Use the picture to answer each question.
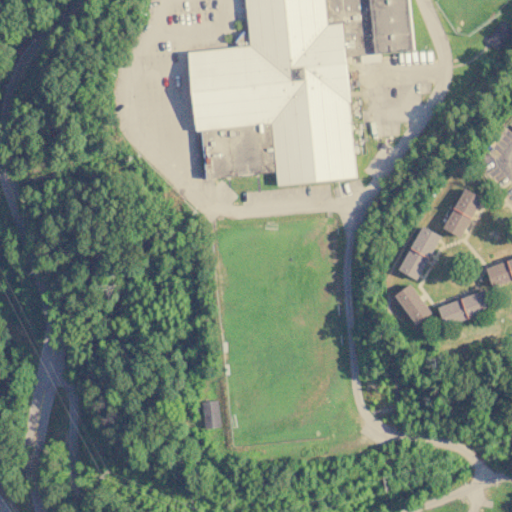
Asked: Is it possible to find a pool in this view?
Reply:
No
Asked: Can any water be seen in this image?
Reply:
No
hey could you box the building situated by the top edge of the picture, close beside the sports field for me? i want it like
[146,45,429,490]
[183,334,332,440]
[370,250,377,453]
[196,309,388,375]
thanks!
[188,0,358,187]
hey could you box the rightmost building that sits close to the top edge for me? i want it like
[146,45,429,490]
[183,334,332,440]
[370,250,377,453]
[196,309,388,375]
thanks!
[372,0,416,54]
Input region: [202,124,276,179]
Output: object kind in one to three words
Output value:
building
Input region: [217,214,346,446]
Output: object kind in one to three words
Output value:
sports field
